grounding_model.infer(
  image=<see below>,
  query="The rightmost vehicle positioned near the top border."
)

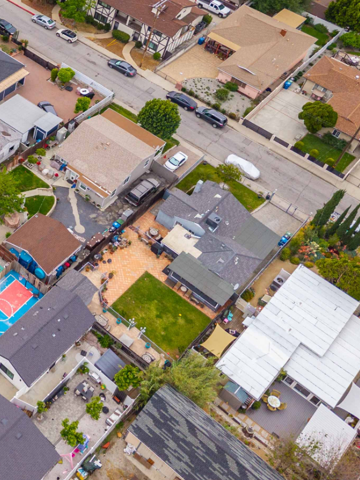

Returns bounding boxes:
[195,0,232,18]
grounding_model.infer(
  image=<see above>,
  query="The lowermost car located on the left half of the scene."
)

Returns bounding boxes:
[123,175,163,207]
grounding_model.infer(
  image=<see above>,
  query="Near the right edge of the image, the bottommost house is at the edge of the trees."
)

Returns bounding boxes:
[218,266,360,415]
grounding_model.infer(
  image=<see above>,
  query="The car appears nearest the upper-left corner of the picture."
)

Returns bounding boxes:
[0,18,18,36]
